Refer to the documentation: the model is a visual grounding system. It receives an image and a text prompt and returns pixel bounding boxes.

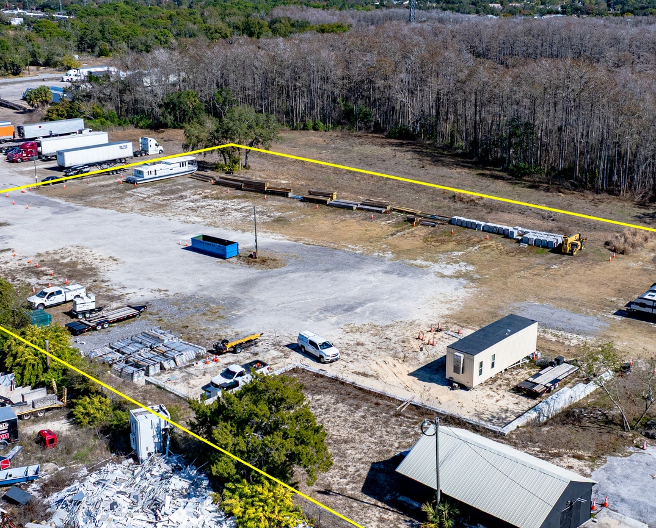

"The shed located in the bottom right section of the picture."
[400,424,593,528]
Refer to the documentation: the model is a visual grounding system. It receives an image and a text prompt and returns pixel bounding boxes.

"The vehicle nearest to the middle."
[298,331,340,364]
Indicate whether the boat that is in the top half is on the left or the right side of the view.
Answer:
left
